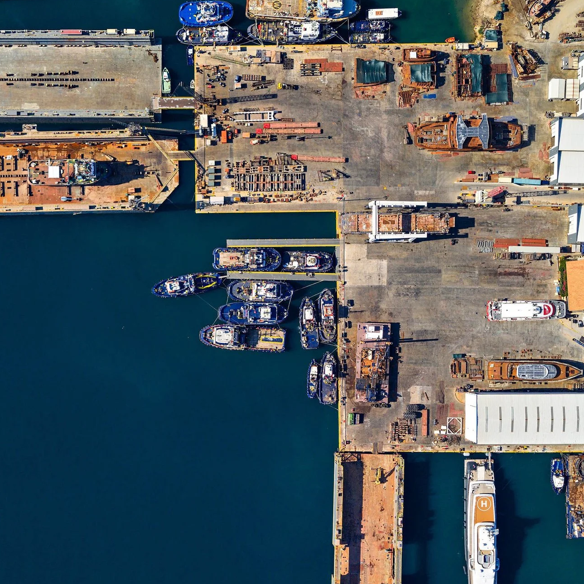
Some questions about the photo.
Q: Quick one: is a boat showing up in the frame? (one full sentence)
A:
Yes, there's a boat down there.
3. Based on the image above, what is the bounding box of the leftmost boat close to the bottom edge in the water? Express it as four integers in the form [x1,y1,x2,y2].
[462,452,499,584]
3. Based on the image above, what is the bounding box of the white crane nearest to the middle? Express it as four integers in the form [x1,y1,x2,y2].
[361,200,427,246]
